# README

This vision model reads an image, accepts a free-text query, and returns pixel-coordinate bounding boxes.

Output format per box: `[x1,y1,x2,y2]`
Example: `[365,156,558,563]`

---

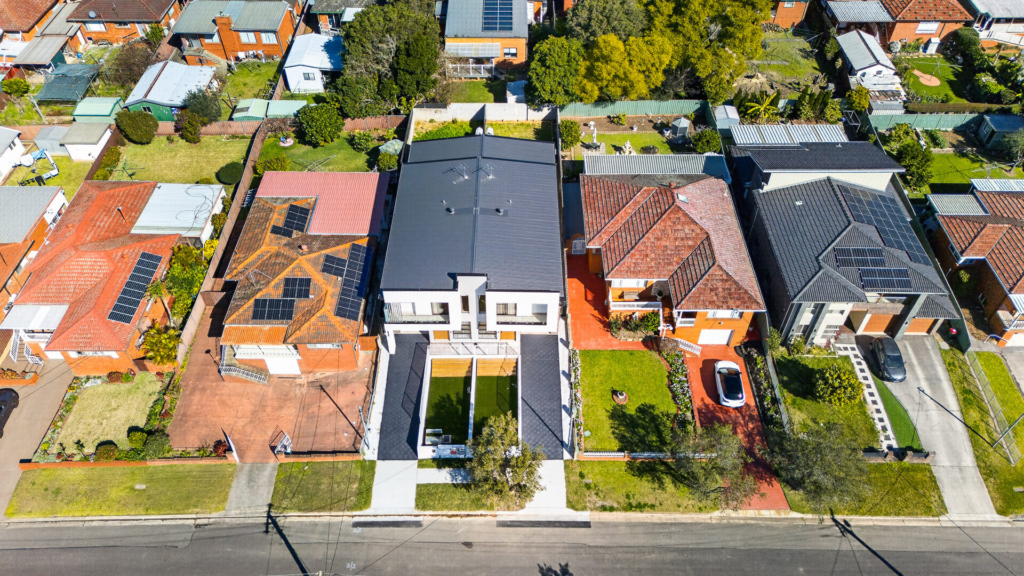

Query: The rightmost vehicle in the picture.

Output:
[873,335,910,385]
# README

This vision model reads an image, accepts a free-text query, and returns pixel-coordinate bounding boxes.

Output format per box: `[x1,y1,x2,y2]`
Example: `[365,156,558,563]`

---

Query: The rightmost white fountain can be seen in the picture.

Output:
[617,138,637,155]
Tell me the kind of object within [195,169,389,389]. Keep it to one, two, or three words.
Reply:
house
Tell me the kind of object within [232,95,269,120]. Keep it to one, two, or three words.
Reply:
shed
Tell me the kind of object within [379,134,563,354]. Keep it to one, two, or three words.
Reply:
house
